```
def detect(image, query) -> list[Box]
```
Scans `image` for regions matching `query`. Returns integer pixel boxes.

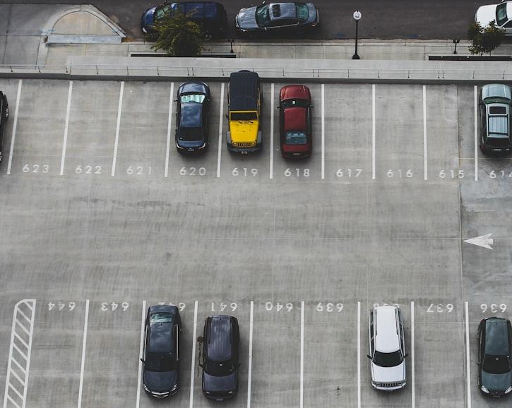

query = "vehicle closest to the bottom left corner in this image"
[139,305,182,399]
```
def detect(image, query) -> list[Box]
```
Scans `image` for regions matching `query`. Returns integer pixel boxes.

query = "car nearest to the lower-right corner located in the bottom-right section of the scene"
[476,314,512,399]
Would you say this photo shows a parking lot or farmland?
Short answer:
parking lot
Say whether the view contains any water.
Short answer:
No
